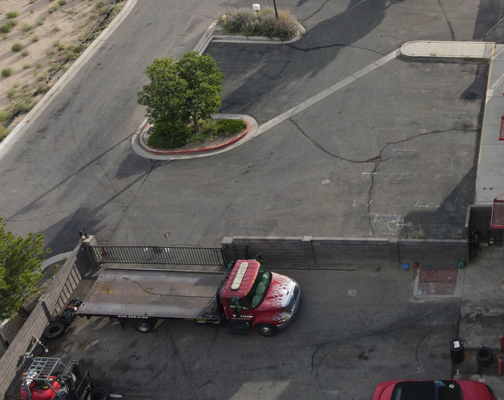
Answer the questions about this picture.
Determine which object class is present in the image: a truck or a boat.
truck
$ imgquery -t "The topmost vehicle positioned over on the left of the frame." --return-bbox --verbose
[77,258,303,337]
